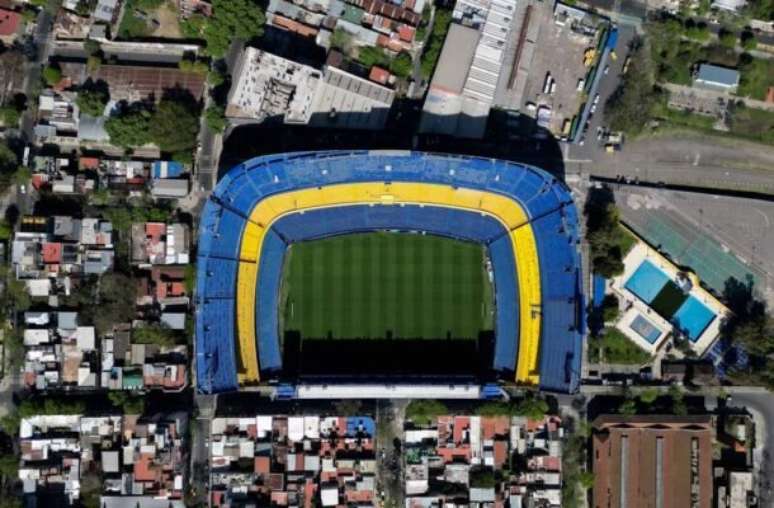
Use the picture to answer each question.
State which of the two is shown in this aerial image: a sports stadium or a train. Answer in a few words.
sports stadium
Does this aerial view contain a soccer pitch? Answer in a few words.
Yes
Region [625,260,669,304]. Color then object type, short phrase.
blue swimming pool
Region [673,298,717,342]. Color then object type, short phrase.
blue swimming pool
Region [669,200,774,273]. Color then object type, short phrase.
gray sports court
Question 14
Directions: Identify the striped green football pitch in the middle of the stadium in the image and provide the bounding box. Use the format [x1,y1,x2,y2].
[276,233,498,382]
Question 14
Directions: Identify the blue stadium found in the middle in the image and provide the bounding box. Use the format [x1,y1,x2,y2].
[195,150,583,399]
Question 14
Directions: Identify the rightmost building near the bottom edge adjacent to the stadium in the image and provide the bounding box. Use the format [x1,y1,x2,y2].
[589,412,711,508]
